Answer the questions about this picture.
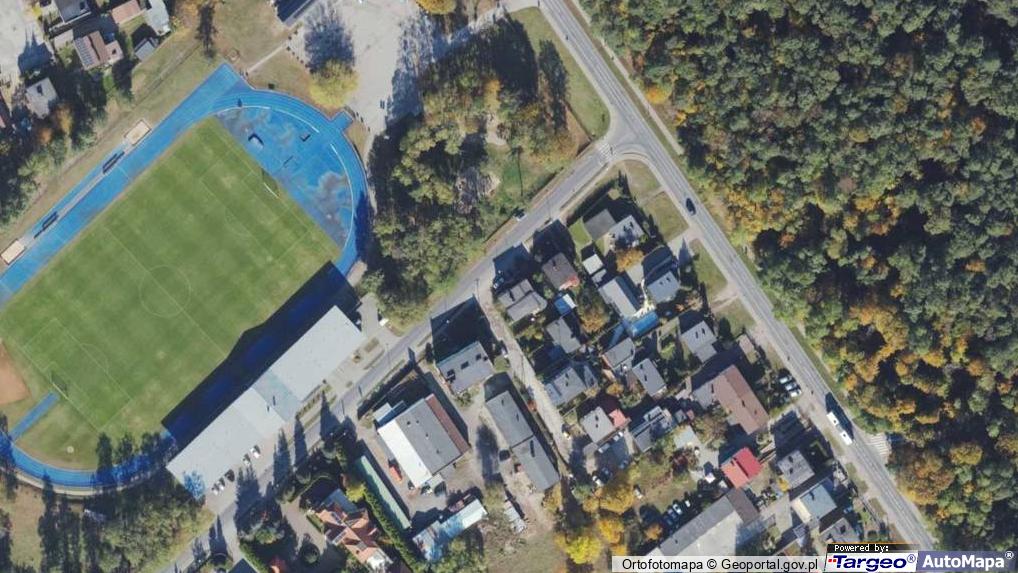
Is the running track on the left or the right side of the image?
left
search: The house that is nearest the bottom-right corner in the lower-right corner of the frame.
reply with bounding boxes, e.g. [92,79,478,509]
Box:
[819,517,862,560]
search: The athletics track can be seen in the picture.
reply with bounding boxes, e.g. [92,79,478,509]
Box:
[0,62,373,495]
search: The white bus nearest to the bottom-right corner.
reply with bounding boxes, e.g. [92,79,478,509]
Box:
[827,413,852,445]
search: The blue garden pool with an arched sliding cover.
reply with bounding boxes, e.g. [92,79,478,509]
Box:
[627,307,665,340]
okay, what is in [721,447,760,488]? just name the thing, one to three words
house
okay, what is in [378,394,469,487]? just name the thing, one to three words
building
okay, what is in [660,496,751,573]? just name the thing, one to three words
building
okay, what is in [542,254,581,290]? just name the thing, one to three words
house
